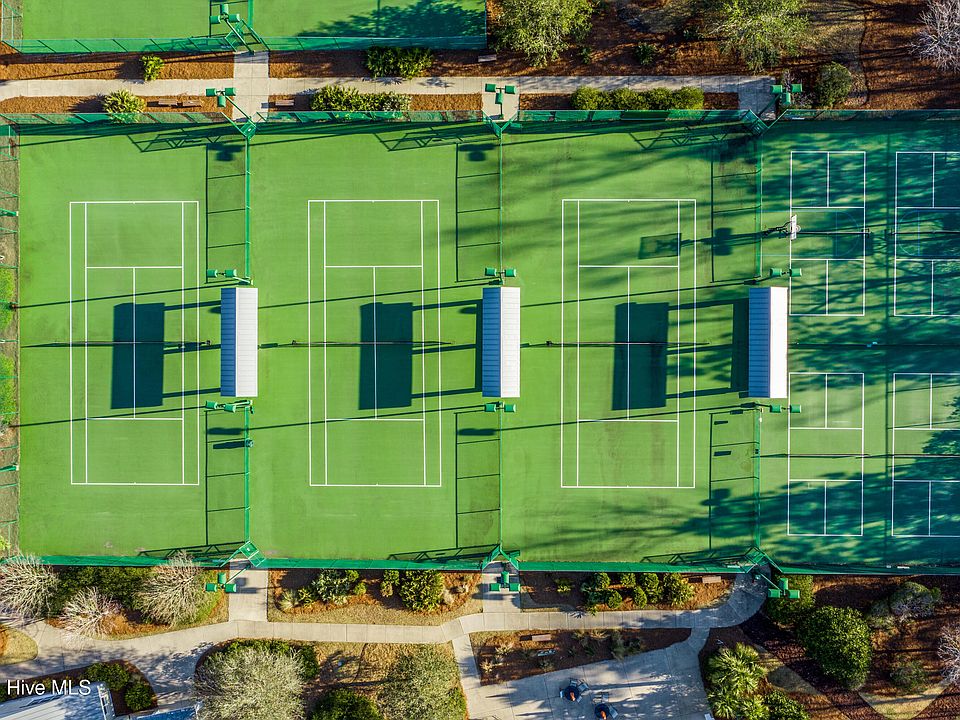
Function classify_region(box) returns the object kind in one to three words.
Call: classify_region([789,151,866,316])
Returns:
sports court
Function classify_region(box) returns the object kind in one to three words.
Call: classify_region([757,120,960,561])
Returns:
basketball court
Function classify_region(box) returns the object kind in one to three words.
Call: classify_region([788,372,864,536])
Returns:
sports court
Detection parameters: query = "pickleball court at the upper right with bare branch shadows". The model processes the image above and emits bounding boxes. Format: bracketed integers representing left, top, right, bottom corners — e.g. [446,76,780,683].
[895,151,960,316]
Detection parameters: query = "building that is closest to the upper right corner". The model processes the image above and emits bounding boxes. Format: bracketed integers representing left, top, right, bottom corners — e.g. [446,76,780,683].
[749,285,789,398]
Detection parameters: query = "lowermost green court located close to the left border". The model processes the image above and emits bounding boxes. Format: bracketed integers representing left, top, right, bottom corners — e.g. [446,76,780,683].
[19,124,249,557]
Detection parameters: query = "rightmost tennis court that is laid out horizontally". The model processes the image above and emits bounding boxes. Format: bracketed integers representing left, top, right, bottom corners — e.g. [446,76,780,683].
[248,0,485,52]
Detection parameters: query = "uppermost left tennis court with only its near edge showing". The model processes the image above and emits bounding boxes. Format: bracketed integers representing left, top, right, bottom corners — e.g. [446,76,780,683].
[22,0,248,54]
